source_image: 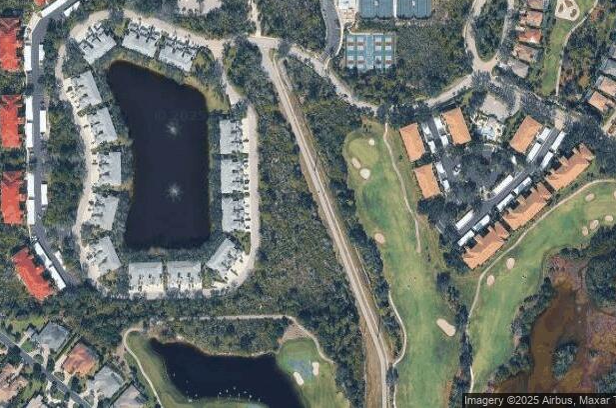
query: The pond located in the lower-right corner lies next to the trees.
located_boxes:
[488,293,597,408]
